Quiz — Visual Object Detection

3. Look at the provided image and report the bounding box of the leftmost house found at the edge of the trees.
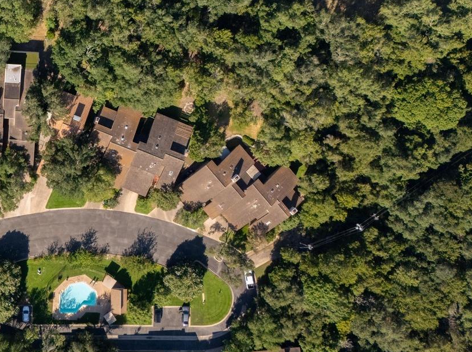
[0,50,39,167]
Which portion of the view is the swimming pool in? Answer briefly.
bottom left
